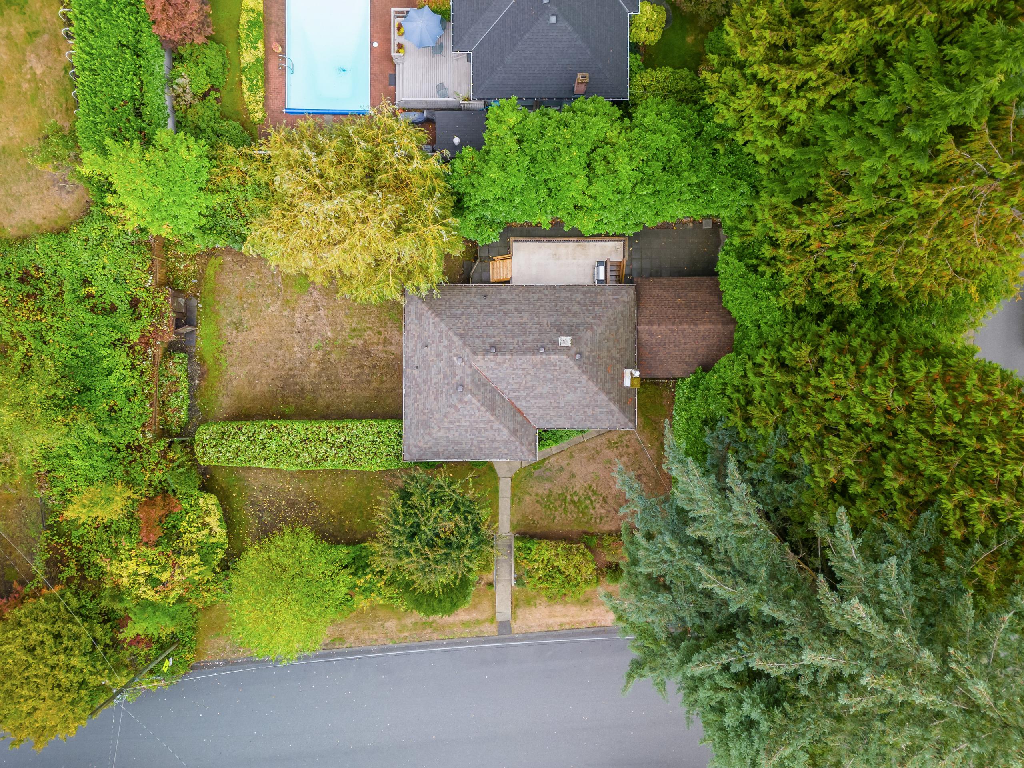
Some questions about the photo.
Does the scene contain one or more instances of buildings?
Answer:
Yes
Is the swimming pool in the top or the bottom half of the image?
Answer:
top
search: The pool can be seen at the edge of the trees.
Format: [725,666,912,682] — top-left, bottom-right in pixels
[284,0,371,115]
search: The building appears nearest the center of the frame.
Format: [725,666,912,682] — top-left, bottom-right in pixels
[404,284,641,461]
